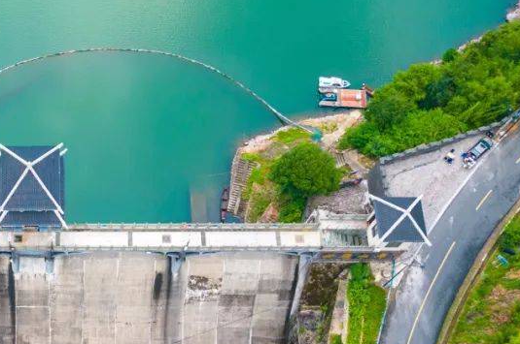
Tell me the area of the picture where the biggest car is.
right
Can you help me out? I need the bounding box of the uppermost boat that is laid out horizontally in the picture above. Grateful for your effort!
[317,74,352,86]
